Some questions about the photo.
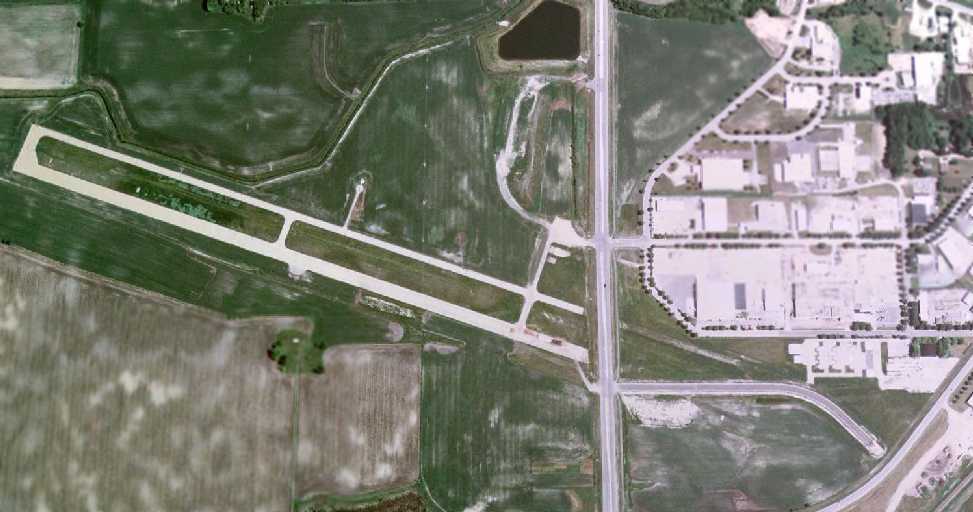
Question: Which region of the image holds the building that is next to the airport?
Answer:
right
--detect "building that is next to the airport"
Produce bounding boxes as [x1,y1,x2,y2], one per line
[654,251,764,321]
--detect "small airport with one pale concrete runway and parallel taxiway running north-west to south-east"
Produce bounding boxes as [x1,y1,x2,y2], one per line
[13,123,596,361]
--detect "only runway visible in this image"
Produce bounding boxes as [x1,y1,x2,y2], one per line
[14,164,588,361]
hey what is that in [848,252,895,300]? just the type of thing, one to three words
building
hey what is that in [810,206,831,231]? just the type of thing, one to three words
building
